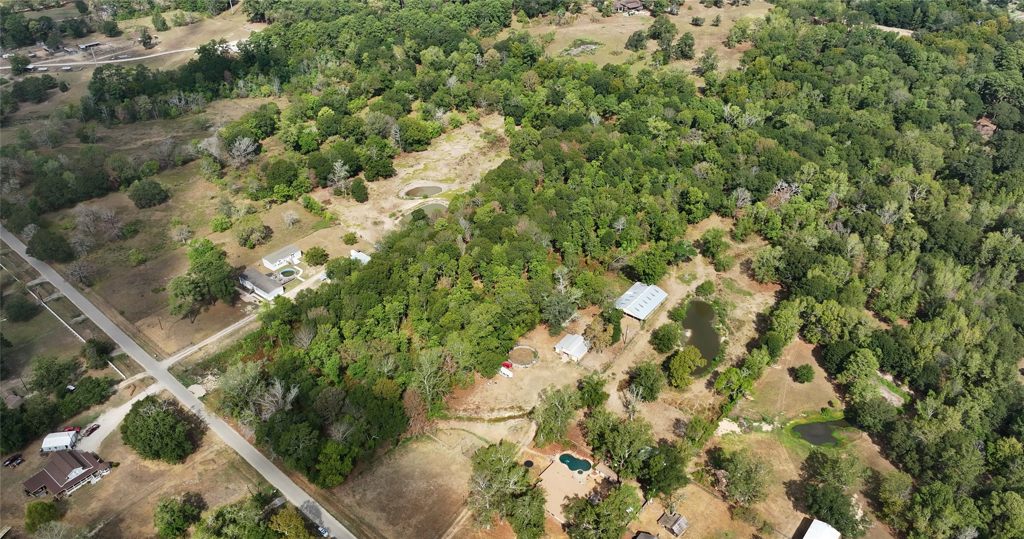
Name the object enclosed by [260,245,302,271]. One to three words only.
house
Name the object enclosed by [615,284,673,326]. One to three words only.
barn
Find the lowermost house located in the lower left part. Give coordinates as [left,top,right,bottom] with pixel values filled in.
[23,452,114,501]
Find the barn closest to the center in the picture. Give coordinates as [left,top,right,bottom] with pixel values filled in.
[553,334,593,364]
